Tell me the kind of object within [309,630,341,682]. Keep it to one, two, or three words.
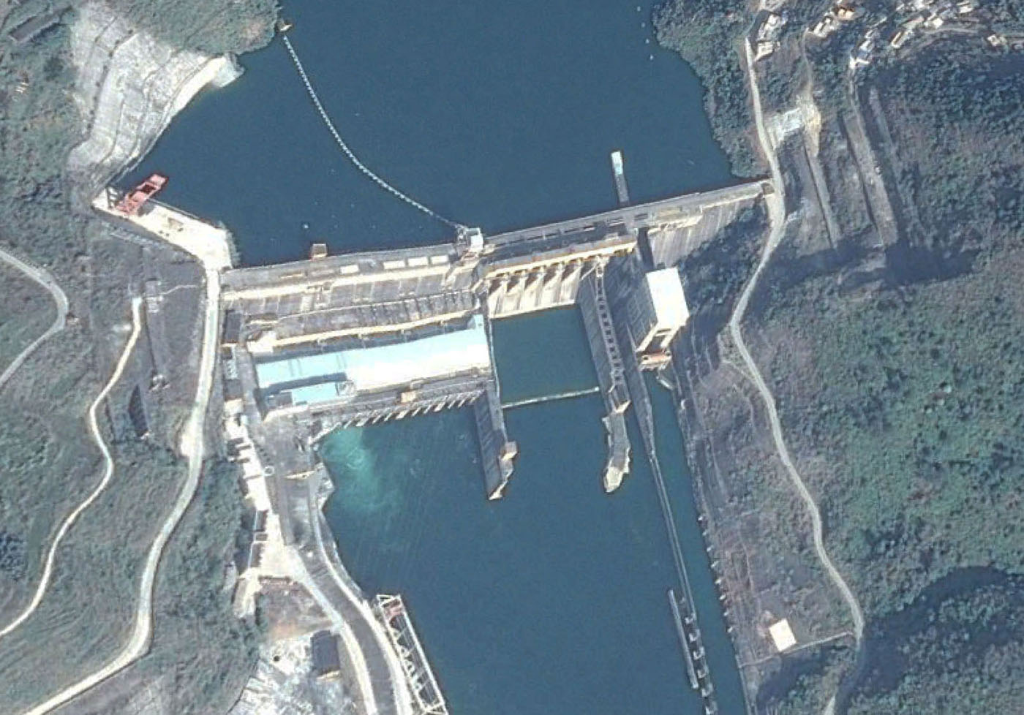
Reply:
building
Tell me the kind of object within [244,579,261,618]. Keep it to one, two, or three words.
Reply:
building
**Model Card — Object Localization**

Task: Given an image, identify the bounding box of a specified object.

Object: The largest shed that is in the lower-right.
[767,620,796,654]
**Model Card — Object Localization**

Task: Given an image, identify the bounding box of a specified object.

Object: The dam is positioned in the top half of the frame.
[221,180,774,339]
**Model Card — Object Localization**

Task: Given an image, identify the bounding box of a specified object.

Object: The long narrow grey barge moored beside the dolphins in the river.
[668,590,698,688]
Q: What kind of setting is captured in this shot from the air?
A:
port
